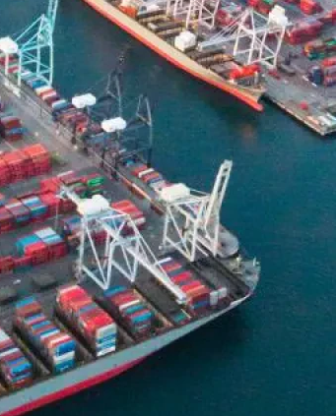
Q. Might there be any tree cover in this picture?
No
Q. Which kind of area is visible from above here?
port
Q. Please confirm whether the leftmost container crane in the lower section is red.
No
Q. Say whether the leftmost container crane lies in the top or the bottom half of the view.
top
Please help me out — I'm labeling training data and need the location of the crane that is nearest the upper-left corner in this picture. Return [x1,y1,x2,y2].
[0,0,61,94]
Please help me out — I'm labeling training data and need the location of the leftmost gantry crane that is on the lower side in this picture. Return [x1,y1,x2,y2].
[65,195,194,308]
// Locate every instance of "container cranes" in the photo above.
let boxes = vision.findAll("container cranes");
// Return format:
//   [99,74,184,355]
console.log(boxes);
[187,6,305,74]
[65,195,194,308]
[0,0,61,94]
[155,157,238,272]
[79,41,149,161]
[110,71,181,189]
[135,0,227,36]
[167,0,209,28]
